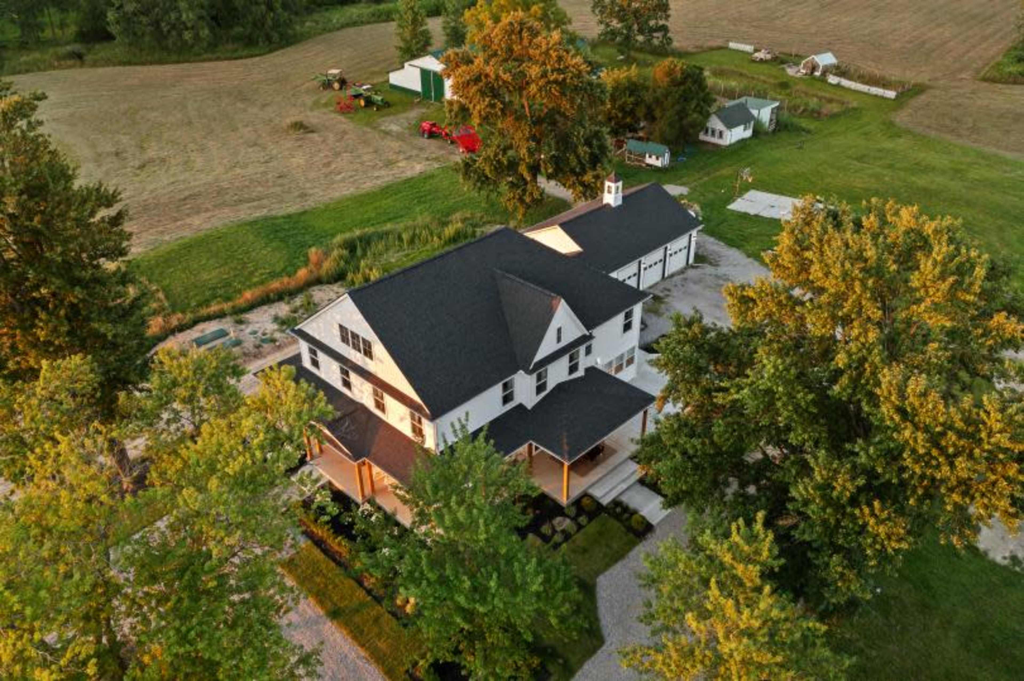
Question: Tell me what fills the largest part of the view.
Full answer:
The scene is dominated by trees.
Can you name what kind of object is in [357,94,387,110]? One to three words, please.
work vehicle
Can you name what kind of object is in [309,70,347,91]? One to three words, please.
work vehicle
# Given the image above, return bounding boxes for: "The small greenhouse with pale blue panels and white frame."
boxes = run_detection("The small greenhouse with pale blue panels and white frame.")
[800,49,837,75]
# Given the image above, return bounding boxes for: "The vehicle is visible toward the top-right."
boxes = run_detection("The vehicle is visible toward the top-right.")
[746,46,780,61]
